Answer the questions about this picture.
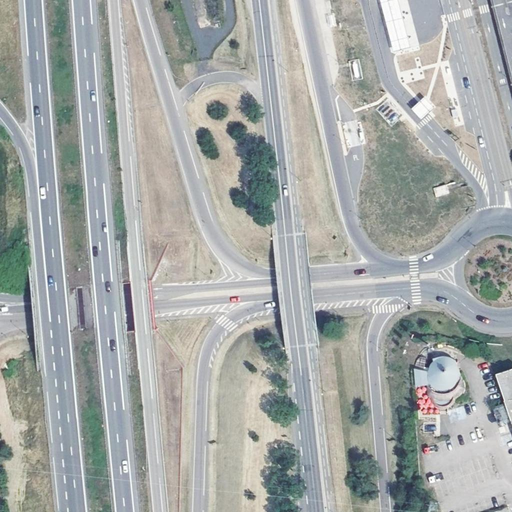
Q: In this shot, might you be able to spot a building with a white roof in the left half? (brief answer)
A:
No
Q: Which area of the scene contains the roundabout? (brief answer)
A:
right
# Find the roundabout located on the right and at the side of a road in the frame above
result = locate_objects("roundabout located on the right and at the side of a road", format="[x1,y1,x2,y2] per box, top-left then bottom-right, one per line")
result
[436,208,512,336]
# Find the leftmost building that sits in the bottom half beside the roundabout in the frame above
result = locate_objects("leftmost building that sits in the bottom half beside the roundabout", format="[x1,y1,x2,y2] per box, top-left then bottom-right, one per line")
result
[414,347,469,402]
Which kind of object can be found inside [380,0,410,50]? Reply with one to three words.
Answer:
building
